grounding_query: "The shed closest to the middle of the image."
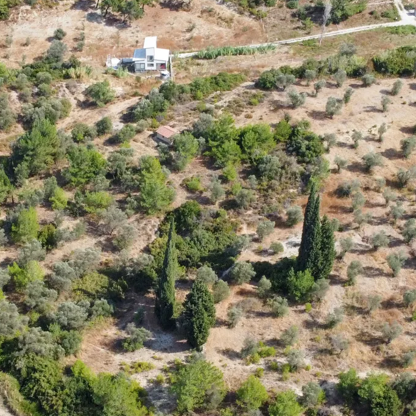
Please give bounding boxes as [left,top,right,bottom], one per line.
[154,125,182,146]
